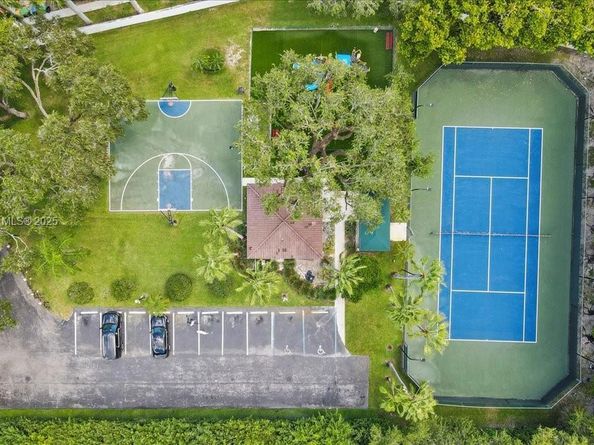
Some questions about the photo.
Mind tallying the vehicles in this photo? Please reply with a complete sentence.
There are 2 vehicles in the image.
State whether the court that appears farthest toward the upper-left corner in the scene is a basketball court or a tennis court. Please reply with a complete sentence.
The court that appears farthest toward the upper-left corner is a basketball court.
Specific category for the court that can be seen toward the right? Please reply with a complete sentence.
From above, the court that can be seen toward the right can be identified as a tennis court.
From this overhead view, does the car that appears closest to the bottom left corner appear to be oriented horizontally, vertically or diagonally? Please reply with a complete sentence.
What the image shows is the car that appears closest to the bottom left corner lying vertically.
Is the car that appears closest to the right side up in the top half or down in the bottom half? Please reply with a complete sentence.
The car that appears closest to the right side sits in the bottom half of the picture.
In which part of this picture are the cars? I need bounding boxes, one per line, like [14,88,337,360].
[147,314,169,359]
[98,311,121,358]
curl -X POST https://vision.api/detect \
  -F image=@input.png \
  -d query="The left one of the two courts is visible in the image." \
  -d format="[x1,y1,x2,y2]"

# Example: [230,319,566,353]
[110,99,242,211]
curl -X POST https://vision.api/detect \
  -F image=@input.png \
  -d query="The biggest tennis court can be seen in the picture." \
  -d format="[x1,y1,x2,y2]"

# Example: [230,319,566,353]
[402,71,575,399]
